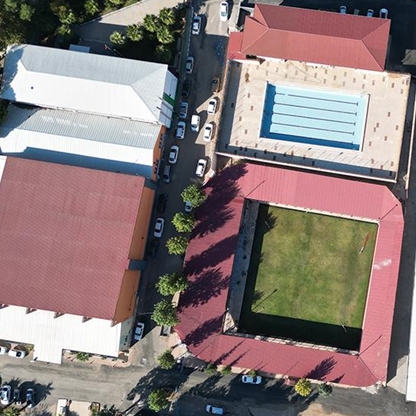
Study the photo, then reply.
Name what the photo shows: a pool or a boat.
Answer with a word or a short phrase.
pool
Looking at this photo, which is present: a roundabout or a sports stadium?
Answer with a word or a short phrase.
sports stadium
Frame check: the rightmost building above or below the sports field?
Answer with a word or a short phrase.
above it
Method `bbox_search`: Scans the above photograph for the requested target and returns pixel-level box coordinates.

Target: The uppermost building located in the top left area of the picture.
[1,45,177,129]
